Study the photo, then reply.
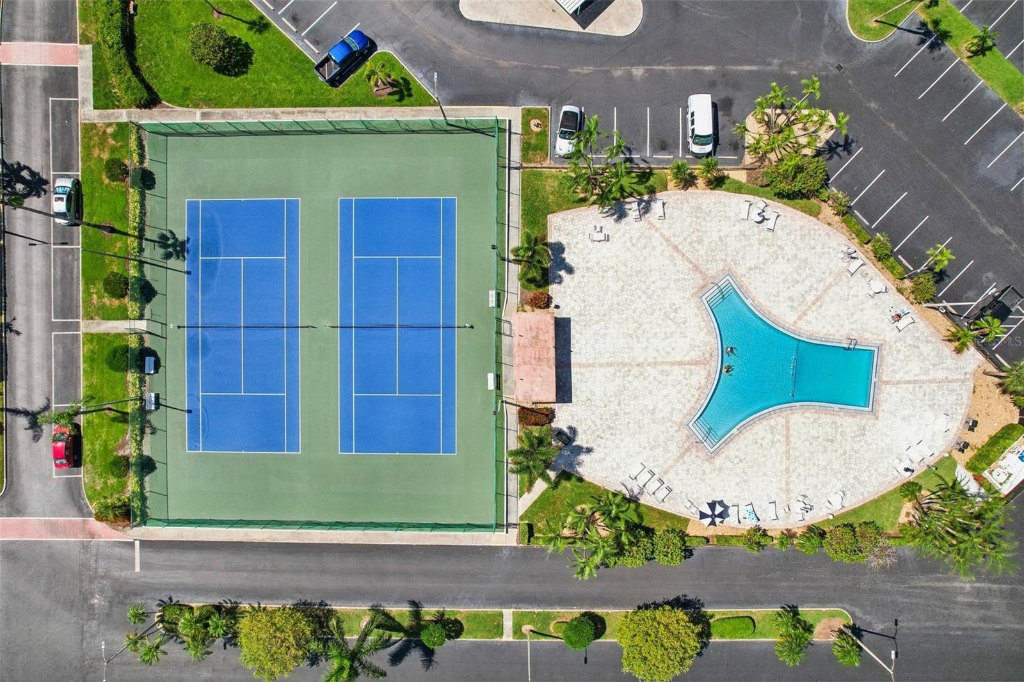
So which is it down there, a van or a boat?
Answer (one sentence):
Of the two, only a van appears.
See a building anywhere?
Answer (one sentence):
Yes, there's a building here.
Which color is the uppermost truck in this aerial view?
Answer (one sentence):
The color of the uppermost truck is blue.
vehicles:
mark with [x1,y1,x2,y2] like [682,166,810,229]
[962,276,1023,330]
[47,422,75,471]
[688,95,718,159]
[556,104,581,156]
[48,175,77,224]
[316,28,376,84]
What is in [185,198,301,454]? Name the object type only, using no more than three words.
tennis court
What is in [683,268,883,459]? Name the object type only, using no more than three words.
swimming pool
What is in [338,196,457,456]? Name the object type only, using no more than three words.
tennis court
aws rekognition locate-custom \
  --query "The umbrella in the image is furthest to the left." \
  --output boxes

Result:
[698,499,726,527]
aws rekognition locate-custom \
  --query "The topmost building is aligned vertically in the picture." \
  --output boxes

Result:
[514,313,556,406]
